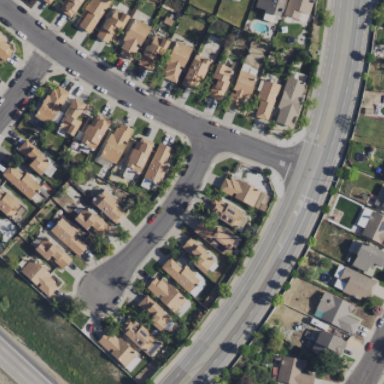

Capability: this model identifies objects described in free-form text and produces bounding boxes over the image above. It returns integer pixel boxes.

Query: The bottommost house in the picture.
[277,358,310,384]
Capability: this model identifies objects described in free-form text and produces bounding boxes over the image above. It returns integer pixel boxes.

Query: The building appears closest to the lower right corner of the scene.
[314,325,350,359]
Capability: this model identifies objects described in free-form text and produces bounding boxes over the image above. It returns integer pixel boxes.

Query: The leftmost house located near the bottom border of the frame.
[96,329,141,371]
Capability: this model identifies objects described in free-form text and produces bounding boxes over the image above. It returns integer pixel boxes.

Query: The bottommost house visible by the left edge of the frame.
[16,258,60,300]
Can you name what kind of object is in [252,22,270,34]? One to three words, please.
swimming pool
